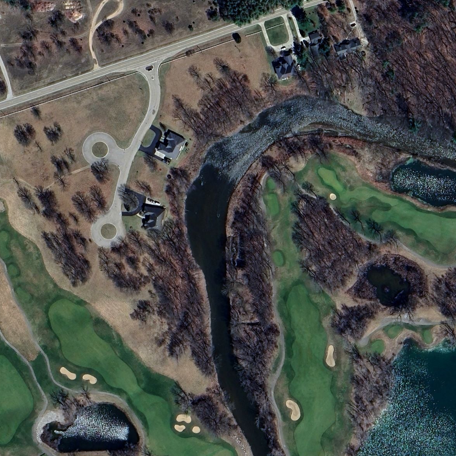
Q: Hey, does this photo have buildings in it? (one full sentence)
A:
Yes, the photo shows a building.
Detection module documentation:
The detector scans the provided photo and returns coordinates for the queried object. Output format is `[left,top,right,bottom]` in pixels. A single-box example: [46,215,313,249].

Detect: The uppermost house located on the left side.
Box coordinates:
[157,130,187,161]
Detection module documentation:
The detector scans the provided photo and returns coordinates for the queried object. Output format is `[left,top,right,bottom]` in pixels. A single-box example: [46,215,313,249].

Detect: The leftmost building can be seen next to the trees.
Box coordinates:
[143,205,165,231]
